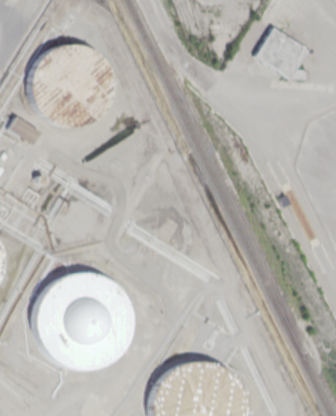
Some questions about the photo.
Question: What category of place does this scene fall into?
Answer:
industrial area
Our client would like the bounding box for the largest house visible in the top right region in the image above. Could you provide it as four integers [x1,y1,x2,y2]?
[254,26,309,82]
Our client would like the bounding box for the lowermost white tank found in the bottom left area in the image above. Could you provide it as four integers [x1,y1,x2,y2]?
[29,272,134,375]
